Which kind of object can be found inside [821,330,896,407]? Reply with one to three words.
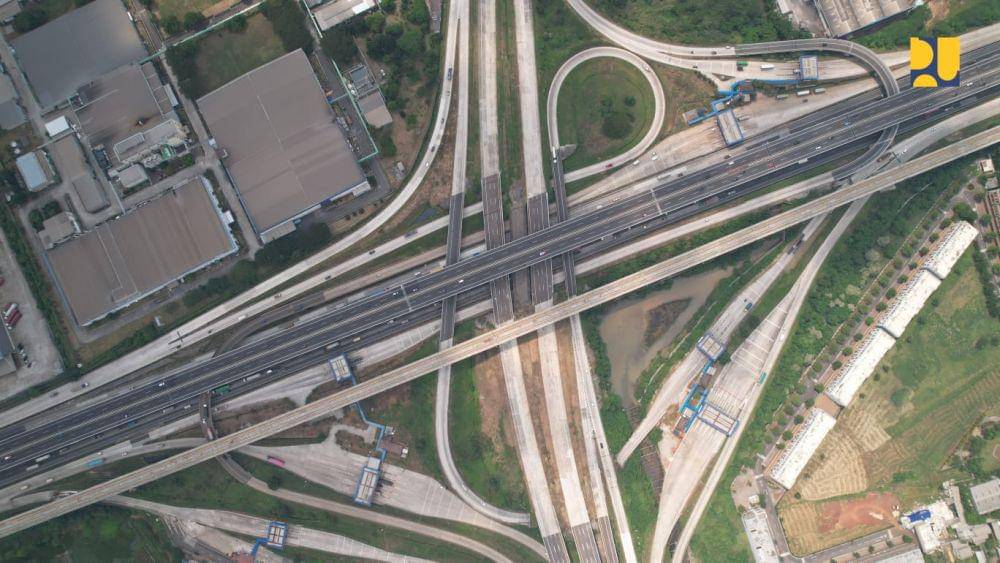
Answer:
building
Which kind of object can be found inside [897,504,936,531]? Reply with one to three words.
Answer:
house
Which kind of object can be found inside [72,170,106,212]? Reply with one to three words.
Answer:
building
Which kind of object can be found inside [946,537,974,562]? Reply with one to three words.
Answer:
house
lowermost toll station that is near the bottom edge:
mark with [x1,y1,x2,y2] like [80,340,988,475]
[194,509,429,563]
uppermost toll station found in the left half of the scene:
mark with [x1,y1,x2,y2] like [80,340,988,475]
[275,322,432,404]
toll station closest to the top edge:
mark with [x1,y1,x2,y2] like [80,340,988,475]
[652,54,848,91]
